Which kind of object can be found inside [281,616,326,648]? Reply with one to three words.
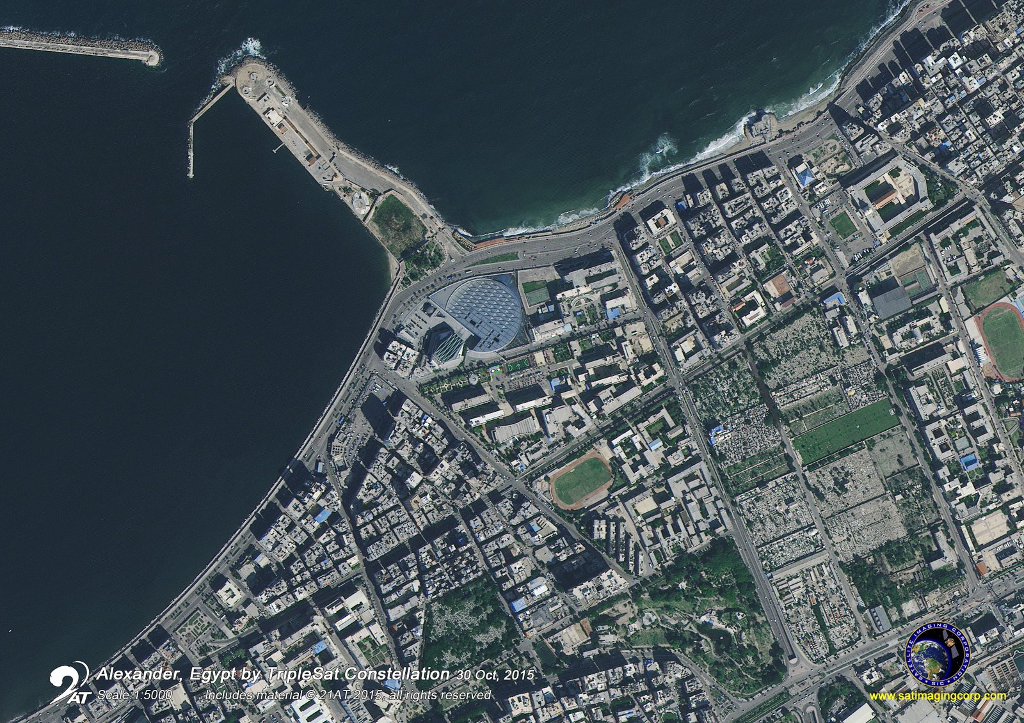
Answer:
building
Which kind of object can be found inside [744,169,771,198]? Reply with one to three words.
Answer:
building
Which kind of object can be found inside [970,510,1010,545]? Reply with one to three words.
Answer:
sports court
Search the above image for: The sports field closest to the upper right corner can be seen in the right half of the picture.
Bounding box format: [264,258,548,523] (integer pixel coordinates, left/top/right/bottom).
[963,270,1013,307]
